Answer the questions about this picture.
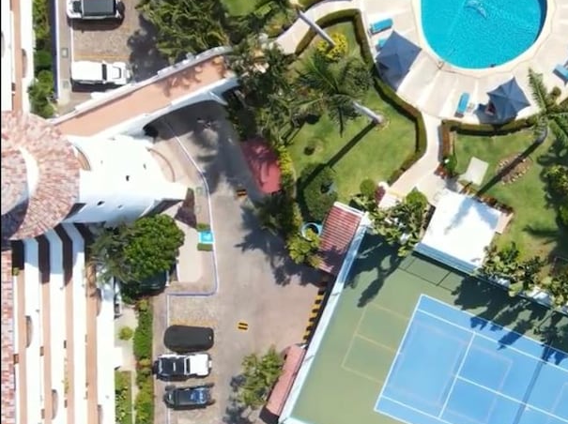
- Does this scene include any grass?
Yes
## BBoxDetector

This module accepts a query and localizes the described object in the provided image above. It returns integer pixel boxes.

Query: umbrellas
[376,26,425,74]
[488,79,526,120]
